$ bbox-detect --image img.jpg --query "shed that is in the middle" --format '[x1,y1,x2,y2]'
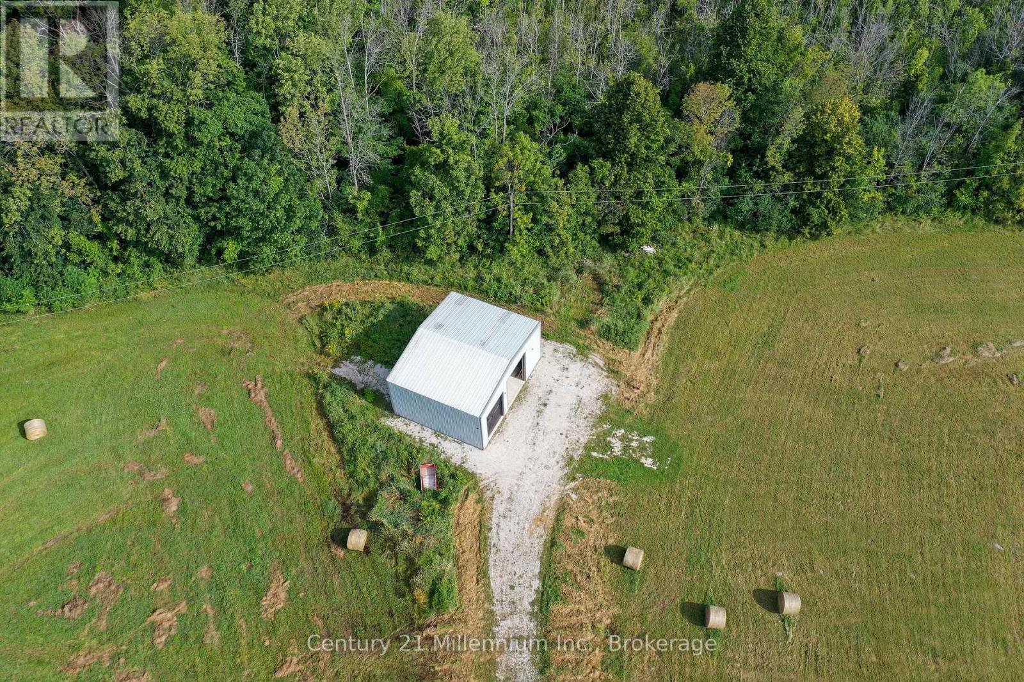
[385,292,541,451]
